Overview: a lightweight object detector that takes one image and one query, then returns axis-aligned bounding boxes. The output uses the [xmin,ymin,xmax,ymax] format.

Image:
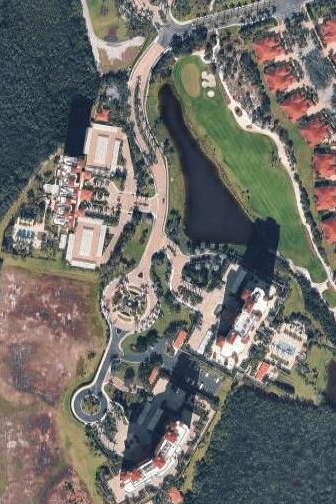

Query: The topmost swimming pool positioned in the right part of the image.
[267,323,306,367]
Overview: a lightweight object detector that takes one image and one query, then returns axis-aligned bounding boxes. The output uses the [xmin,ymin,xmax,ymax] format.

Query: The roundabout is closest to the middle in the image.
[102,273,157,330]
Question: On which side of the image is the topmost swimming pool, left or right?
left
